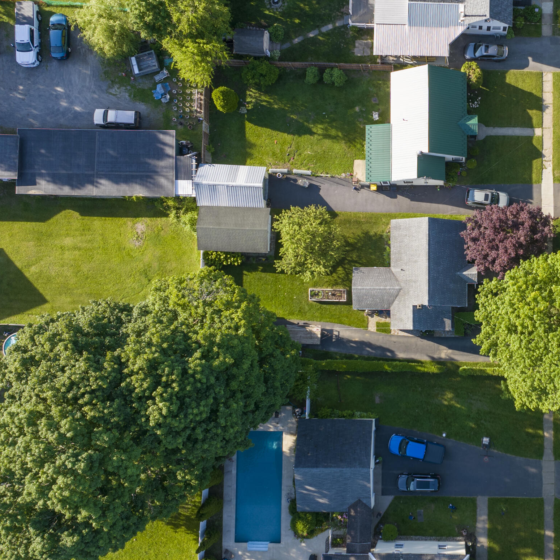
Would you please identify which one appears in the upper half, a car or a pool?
car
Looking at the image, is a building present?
Yes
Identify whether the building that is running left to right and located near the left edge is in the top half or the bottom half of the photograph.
top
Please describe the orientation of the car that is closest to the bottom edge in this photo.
from side to side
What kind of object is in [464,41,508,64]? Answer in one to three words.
car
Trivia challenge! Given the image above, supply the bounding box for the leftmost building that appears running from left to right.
[16,128,185,199]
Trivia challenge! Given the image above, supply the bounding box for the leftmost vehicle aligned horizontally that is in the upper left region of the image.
[93,106,142,130]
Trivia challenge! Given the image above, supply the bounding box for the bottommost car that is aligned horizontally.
[397,472,441,494]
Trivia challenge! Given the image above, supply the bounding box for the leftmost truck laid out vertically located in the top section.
[15,3,43,67]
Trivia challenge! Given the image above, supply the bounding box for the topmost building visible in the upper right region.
[372,0,512,64]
